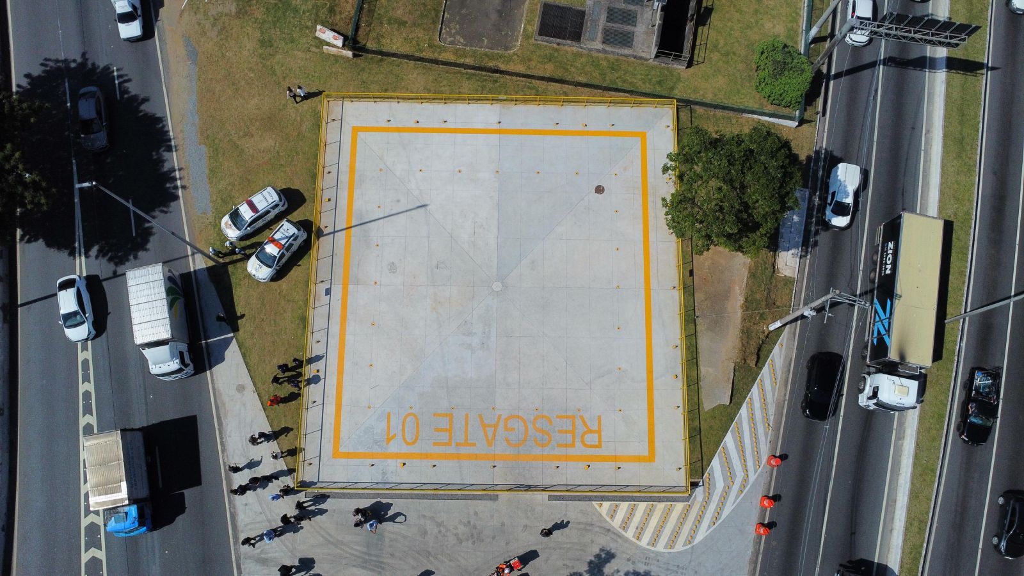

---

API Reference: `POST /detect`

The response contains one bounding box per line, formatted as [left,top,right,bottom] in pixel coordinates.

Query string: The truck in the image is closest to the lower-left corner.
[82,427,159,537]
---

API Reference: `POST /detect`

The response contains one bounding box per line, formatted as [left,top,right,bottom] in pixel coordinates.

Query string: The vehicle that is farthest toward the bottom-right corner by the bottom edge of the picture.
[987,489,1024,561]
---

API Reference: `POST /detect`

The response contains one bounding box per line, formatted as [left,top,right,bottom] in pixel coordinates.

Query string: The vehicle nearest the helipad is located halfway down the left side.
[248,217,308,283]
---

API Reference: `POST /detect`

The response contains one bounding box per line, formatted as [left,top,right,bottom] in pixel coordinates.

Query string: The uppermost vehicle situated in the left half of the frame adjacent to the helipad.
[222,183,287,243]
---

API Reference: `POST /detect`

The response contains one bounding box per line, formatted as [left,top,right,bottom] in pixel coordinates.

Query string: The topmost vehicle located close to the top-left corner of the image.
[109,0,148,44]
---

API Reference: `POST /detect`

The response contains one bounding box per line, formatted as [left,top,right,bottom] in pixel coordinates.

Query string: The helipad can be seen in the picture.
[296,96,704,497]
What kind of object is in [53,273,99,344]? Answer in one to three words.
car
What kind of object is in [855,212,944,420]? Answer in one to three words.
truck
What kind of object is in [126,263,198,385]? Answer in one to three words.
truck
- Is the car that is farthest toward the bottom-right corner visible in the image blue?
No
